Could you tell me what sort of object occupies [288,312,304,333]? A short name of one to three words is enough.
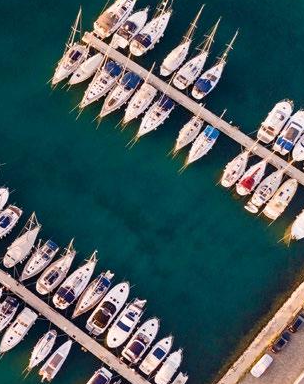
car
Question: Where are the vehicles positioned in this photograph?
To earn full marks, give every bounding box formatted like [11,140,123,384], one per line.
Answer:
[251,353,275,379]
[288,312,304,333]
[270,331,291,353]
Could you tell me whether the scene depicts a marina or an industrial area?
marina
